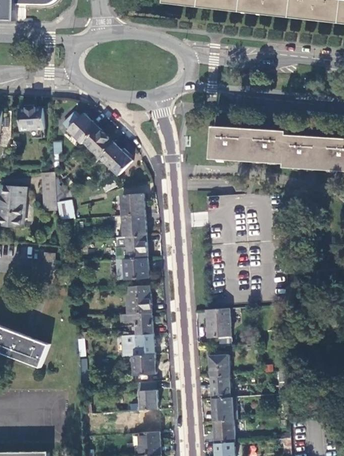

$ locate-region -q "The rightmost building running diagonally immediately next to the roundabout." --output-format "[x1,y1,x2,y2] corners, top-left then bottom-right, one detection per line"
[62,105,135,175]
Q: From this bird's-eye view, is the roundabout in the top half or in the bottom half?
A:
top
